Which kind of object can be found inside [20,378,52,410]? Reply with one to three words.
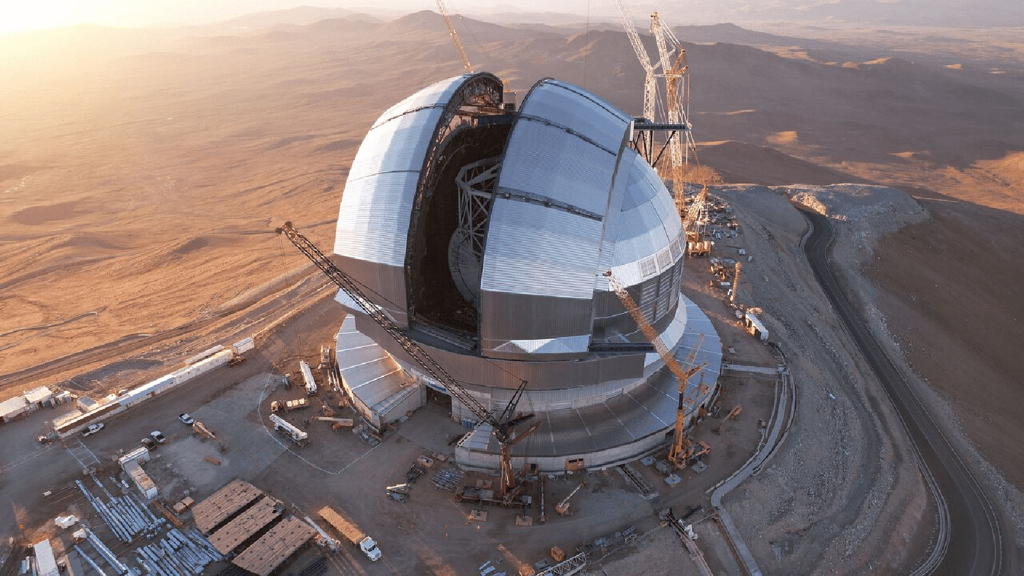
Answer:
shed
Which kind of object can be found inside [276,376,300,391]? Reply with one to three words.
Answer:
work vehicle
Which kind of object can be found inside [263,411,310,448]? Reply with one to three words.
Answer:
crane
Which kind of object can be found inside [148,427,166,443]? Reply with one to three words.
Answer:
vehicle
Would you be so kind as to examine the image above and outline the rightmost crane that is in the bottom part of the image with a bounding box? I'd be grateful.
[598,268,716,479]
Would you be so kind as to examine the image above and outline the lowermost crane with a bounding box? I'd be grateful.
[287,494,339,552]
